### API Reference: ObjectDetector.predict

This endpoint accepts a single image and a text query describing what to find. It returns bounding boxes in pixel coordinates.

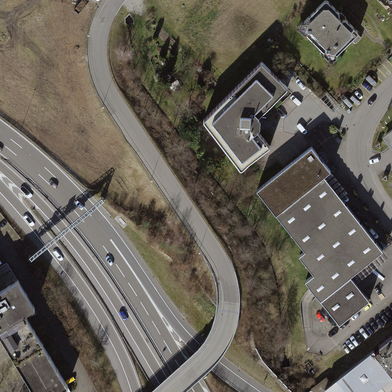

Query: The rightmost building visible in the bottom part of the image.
[370,334,392,378]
